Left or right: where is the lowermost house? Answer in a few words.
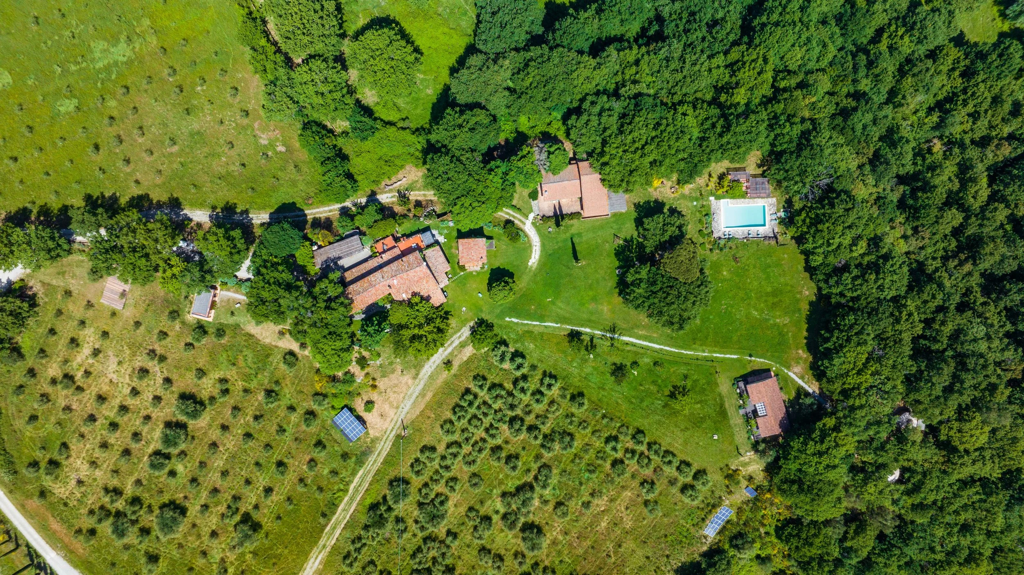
right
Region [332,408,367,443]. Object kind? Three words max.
solar array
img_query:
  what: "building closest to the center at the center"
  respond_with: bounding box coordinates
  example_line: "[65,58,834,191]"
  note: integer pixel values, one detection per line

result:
[458,238,494,271]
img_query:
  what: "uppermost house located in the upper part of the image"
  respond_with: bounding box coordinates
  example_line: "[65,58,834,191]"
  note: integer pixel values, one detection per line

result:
[531,160,627,219]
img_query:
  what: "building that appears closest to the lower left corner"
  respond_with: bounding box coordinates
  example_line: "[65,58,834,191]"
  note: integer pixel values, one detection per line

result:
[189,285,220,321]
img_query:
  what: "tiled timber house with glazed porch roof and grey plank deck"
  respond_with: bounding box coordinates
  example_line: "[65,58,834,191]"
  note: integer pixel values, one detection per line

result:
[736,371,791,440]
